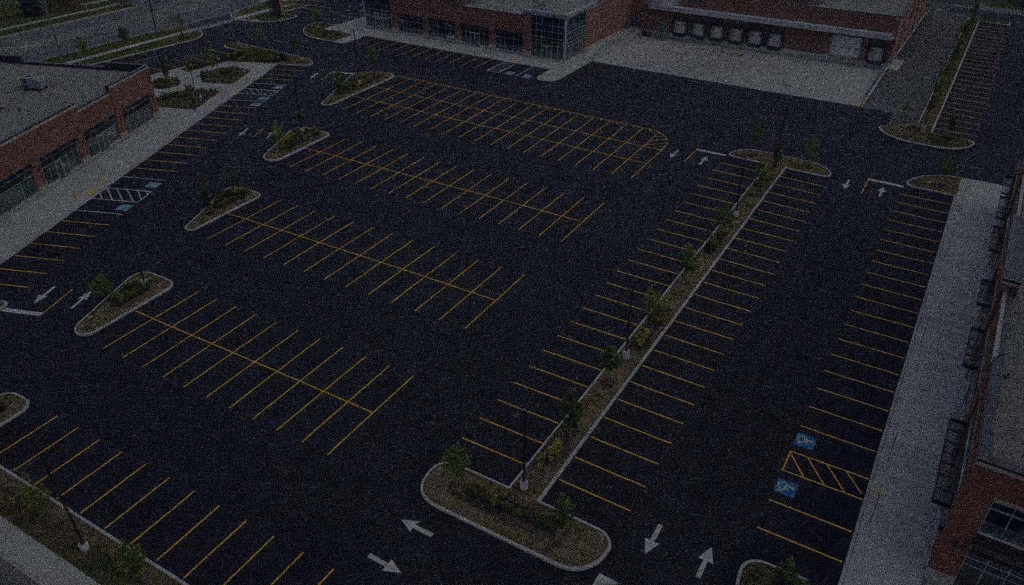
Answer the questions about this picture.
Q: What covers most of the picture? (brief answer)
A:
paved ground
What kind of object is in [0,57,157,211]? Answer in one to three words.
building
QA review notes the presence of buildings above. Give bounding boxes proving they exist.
[0,57,157,211]
[361,0,929,71]
[923,133,1024,585]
